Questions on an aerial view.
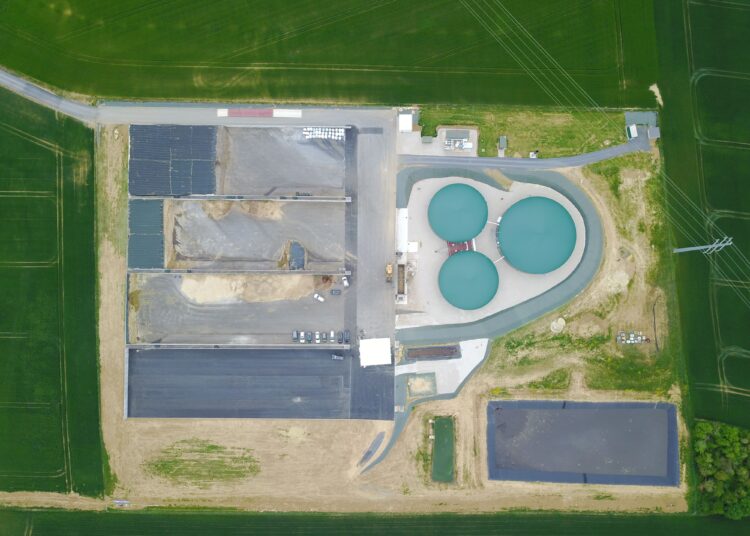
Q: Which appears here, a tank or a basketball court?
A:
tank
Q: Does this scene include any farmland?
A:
Yes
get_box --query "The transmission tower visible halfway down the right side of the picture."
[671,237,735,254]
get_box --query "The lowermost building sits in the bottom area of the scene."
[358,337,392,368]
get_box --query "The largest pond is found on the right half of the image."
[486,400,681,487]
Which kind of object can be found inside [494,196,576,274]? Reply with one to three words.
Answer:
storage tank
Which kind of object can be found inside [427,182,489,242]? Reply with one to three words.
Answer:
storage tank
